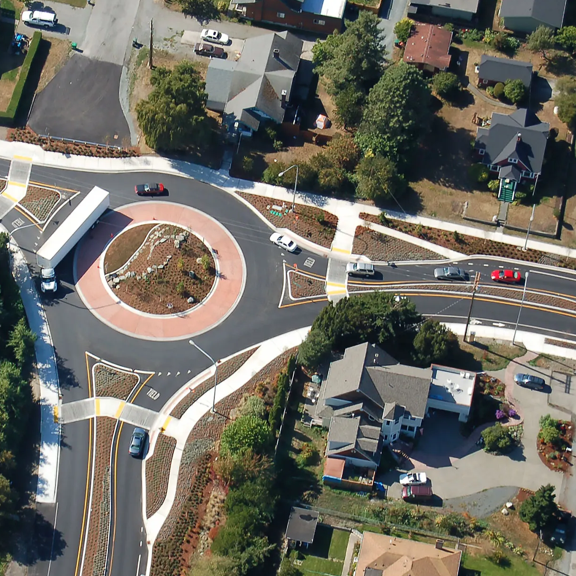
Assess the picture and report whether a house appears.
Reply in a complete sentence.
Yes, there's a house down there.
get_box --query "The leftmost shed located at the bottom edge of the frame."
[287,507,320,551]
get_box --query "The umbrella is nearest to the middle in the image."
[308,372,325,388]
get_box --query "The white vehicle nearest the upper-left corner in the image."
[23,12,57,27]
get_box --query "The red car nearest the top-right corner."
[491,270,521,284]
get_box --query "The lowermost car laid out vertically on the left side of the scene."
[130,430,146,457]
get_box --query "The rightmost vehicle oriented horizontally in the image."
[513,373,546,390]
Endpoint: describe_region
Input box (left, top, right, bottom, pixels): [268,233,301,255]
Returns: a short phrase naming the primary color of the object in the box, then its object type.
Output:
white car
